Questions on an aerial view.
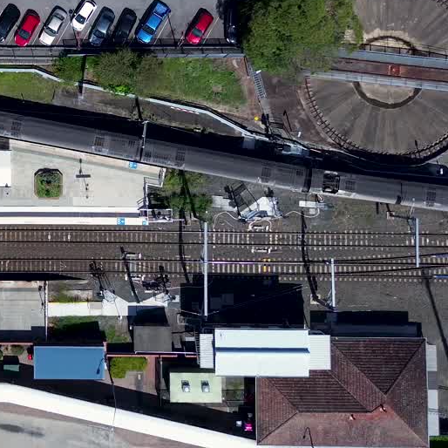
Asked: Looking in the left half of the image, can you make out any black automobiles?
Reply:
Yes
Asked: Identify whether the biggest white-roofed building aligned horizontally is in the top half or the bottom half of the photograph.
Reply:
bottom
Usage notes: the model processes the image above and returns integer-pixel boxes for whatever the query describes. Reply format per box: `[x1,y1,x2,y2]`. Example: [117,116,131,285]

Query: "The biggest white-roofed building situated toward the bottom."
[192,318,330,376]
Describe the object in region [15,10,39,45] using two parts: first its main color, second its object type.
red car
